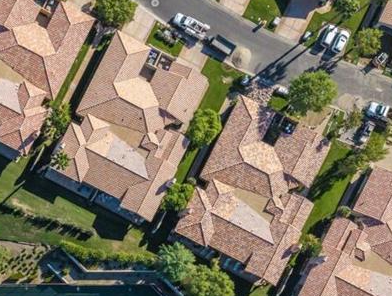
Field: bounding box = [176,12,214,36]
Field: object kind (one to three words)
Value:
truck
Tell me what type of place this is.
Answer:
residential area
